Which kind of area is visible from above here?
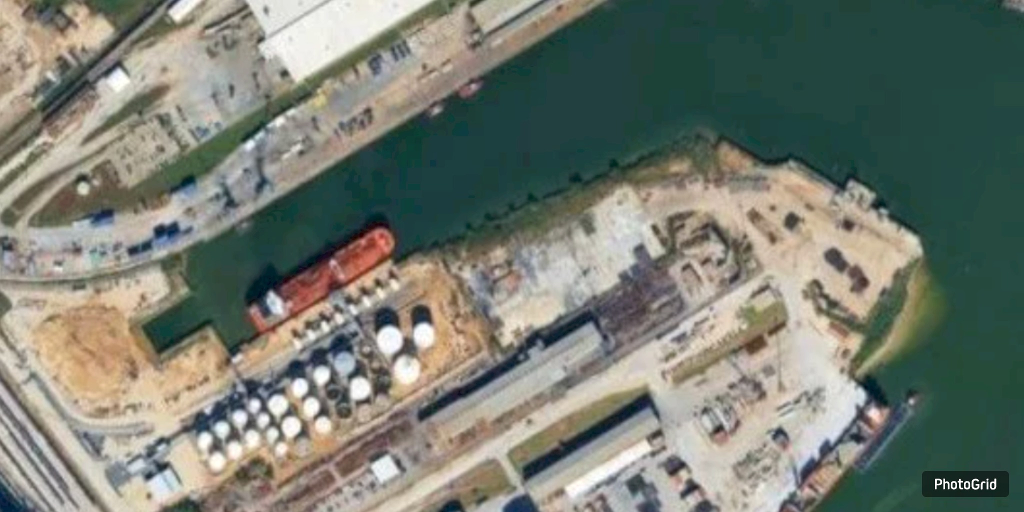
port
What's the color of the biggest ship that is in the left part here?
red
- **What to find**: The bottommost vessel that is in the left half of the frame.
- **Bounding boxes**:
[248,228,396,334]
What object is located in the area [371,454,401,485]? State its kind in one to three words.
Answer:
building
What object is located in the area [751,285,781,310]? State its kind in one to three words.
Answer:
shed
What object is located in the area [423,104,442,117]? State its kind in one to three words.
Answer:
boat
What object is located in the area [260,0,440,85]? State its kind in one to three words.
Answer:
building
